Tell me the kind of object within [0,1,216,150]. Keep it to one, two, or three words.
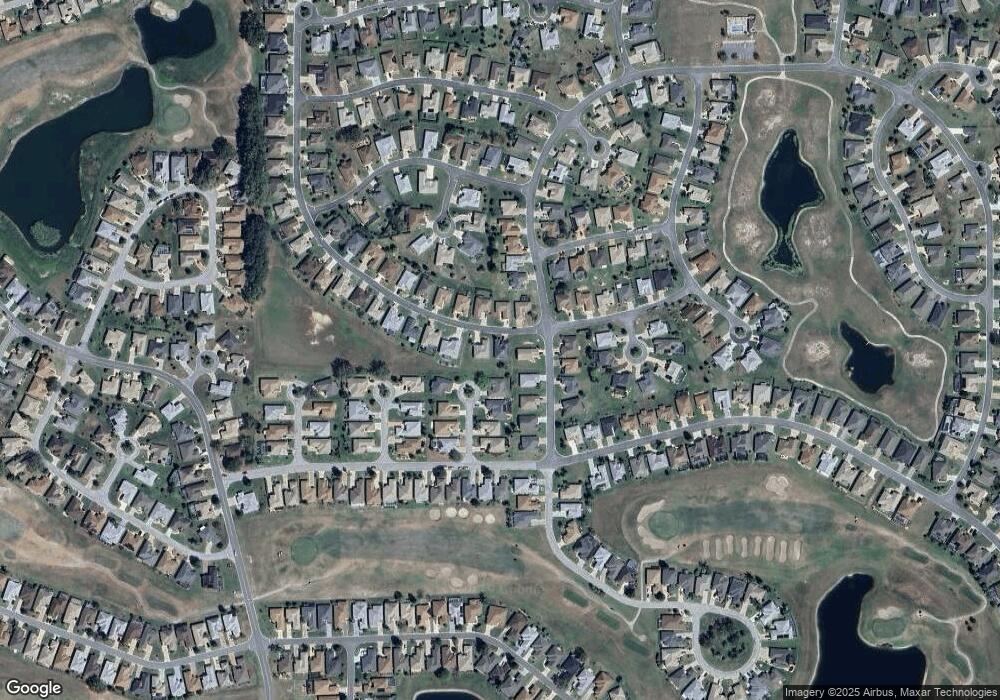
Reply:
golf course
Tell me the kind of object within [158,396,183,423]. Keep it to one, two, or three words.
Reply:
house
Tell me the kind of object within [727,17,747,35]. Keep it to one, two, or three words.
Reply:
swimming pool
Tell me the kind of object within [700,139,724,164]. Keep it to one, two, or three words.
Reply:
house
